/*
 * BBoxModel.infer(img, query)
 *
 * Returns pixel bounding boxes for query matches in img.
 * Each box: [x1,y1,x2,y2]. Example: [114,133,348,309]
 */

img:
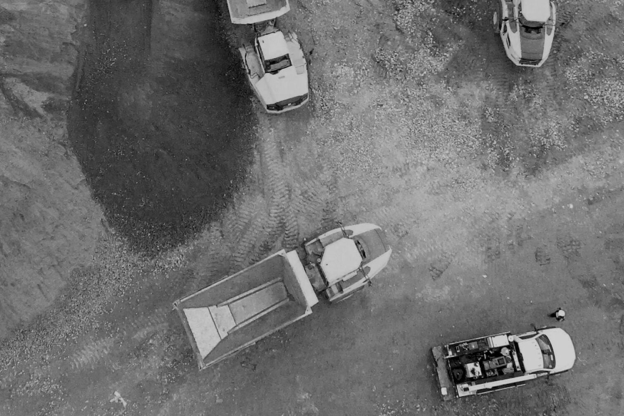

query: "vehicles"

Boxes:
[429,327,577,399]
[169,220,392,377]
[494,0,565,67]
[226,0,307,119]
